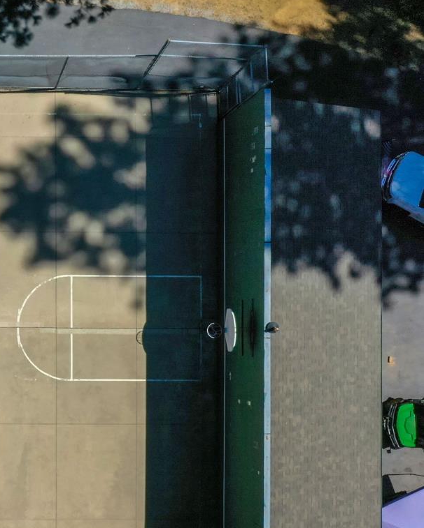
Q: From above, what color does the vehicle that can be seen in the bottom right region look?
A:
green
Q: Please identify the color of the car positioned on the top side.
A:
blue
